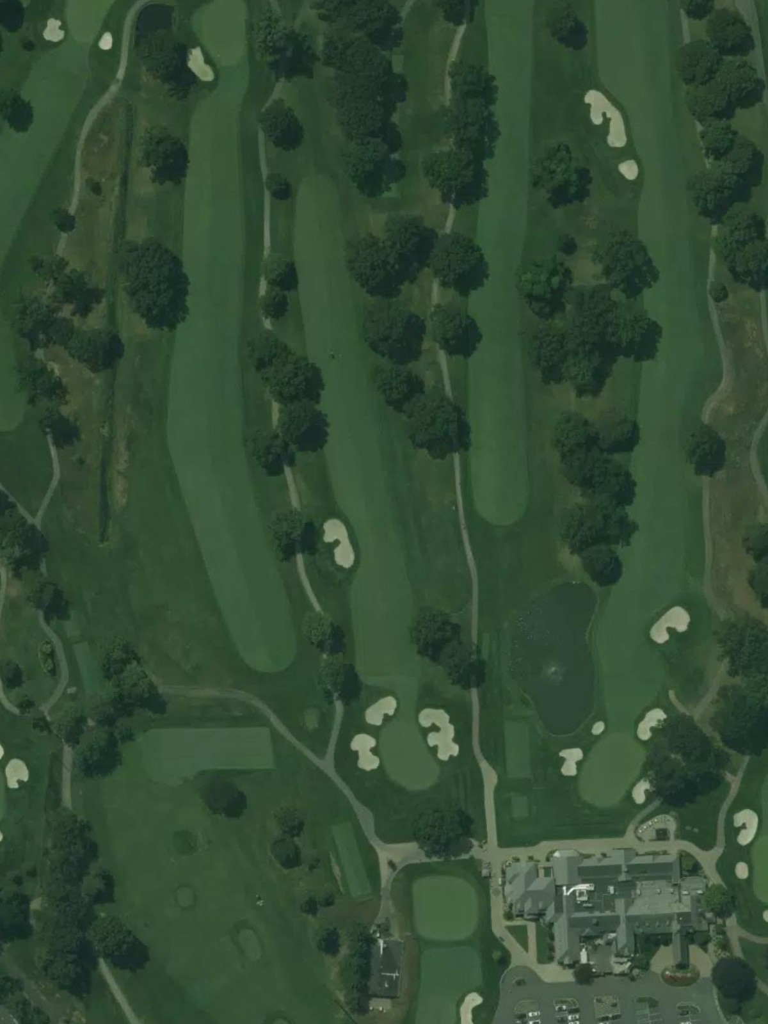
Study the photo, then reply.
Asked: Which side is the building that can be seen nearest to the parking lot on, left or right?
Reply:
right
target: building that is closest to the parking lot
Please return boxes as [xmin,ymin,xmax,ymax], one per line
[506,849,716,973]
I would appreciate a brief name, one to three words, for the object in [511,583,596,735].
pond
